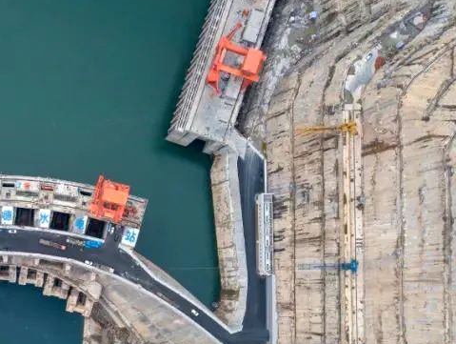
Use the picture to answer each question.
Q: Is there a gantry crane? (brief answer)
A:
Yes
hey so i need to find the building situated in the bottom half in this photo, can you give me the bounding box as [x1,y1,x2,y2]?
[253,192,274,276]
